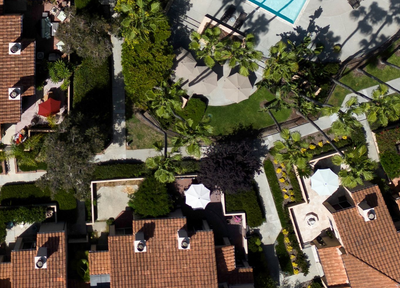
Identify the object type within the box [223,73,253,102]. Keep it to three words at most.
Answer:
umbrella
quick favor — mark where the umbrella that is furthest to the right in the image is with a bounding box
[311,167,339,195]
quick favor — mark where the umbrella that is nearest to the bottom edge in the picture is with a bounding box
[187,185,211,209]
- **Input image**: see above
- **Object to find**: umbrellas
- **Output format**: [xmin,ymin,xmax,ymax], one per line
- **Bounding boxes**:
[42,95,59,116]
[311,167,339,195]
[187,185,211,209]
[223,73,253,102]
[170,49,197,75]
[188,66,217,95]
